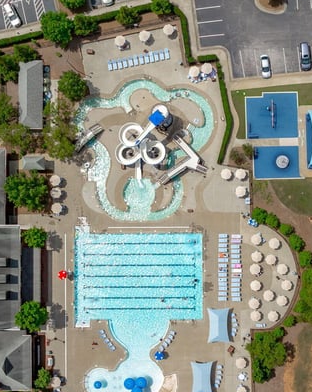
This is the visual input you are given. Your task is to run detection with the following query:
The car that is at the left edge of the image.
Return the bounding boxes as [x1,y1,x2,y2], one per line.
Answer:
[3,2,20,30]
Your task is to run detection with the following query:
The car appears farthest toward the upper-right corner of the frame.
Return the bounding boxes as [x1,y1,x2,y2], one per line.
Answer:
[299,44,312,71]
